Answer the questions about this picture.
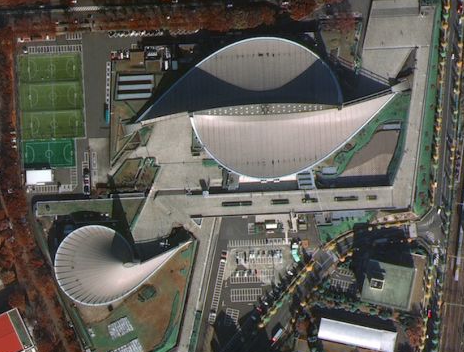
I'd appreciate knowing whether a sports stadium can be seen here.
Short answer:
Yes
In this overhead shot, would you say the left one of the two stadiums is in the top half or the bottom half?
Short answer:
bottom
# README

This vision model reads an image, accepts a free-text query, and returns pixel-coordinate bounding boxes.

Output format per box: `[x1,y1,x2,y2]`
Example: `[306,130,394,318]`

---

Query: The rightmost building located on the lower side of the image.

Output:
[360,259,415,312]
